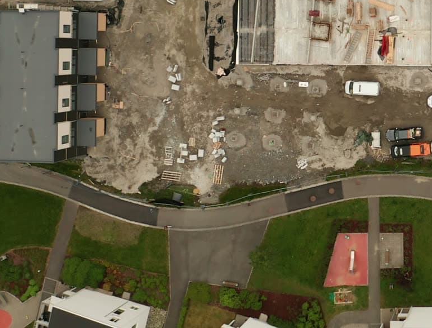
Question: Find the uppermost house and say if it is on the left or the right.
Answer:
left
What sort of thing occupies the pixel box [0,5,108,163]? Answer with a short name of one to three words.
house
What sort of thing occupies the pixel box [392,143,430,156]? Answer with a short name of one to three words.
vehicle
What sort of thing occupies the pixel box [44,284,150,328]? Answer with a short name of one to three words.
house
